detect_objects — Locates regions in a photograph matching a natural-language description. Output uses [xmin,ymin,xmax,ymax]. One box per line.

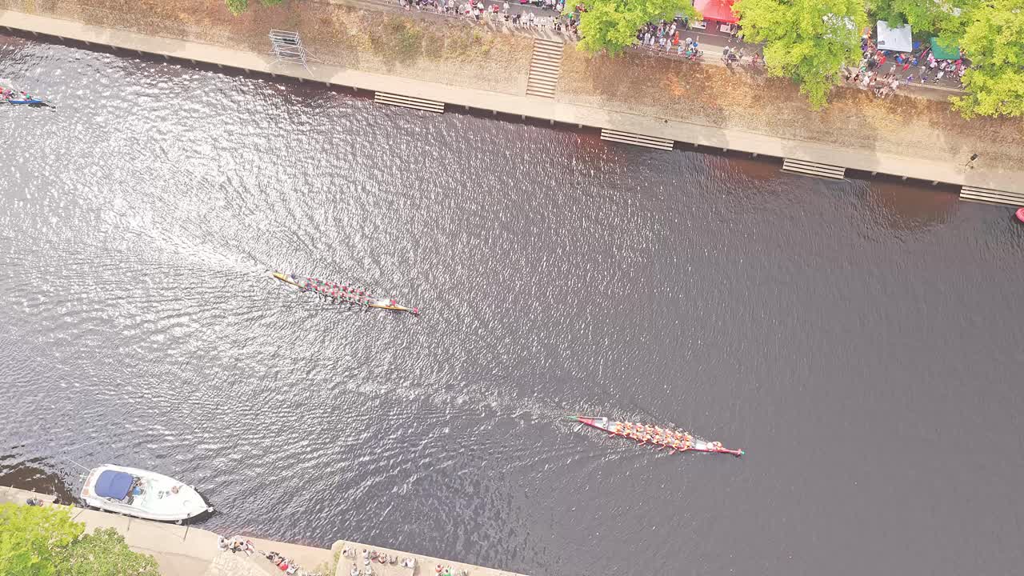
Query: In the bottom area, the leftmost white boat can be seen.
[69,429,215,525]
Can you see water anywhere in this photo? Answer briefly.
Yes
